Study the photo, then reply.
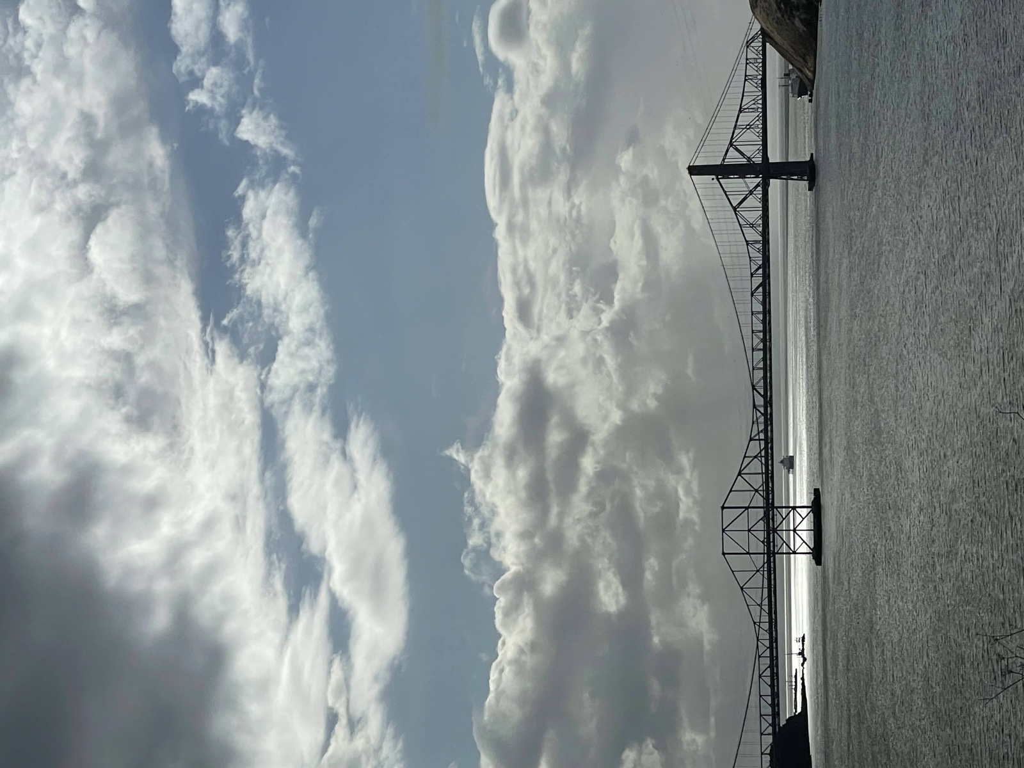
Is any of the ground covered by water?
Yes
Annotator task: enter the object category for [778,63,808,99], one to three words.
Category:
ship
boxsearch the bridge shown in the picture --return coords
[715,26,820,768]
